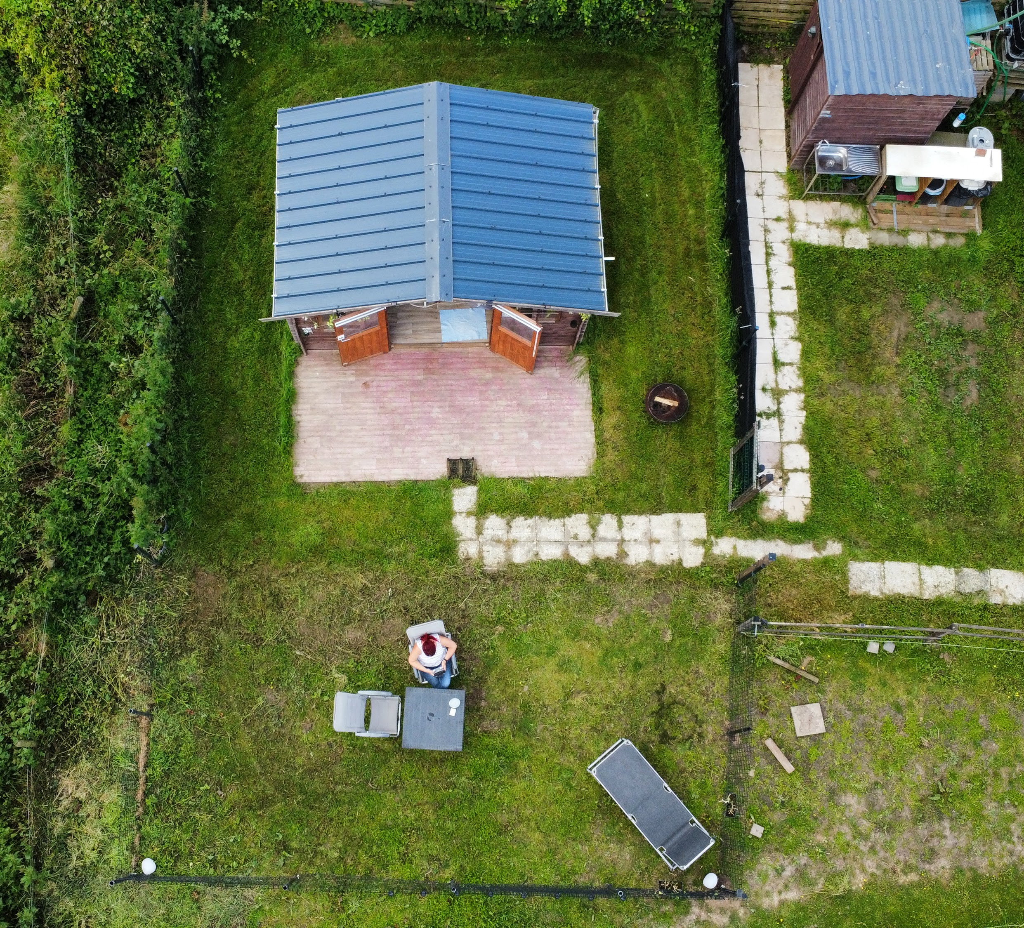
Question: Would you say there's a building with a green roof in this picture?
No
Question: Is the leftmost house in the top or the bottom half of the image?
top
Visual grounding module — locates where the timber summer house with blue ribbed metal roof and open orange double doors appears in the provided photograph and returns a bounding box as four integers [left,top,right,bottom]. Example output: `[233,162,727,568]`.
[257,79,618,371]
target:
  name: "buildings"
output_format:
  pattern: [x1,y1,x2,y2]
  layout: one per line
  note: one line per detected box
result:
[257,79,618,371]
[779,0,979,169]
